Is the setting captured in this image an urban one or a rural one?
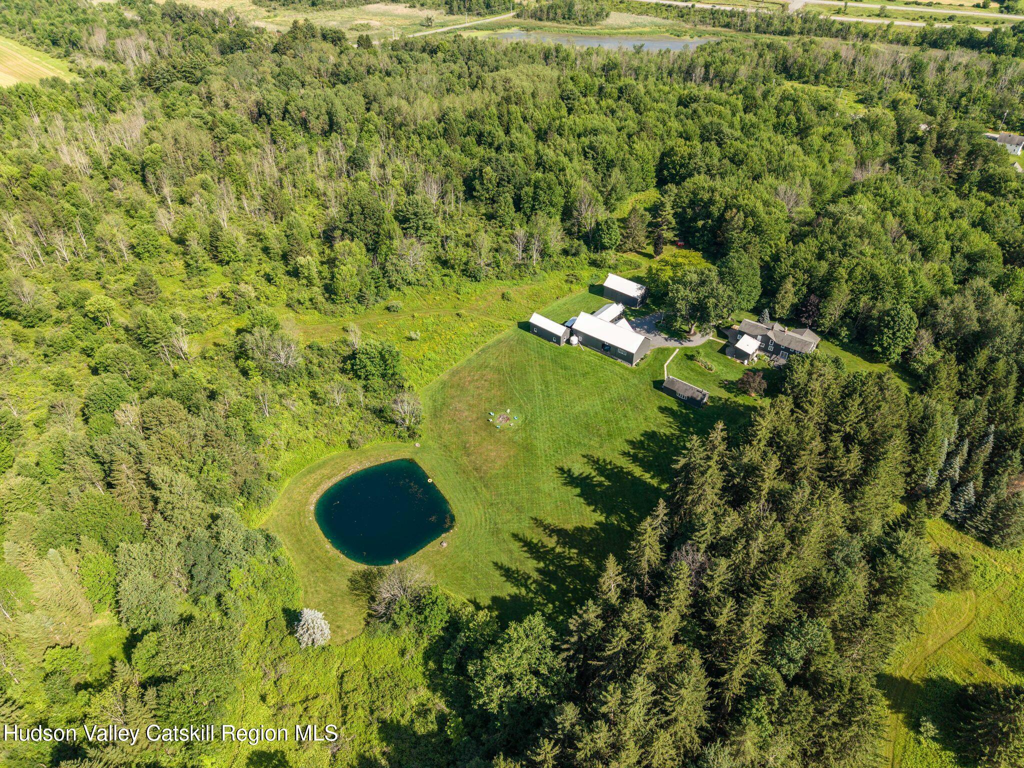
rural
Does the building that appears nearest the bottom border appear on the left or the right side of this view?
right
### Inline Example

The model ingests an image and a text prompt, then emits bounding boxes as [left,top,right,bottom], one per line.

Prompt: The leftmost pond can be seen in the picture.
[314,458,455,565]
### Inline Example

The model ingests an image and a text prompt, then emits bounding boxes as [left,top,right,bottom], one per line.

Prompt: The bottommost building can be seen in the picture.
[661,373,715,409]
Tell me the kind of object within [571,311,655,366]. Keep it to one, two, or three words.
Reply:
barn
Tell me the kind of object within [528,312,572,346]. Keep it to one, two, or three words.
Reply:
barn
